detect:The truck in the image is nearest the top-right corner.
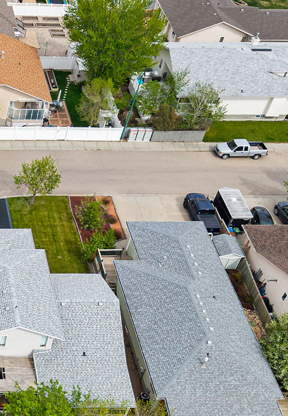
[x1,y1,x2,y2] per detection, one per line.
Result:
[215,140,273,162]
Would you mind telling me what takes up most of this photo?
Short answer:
buildings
